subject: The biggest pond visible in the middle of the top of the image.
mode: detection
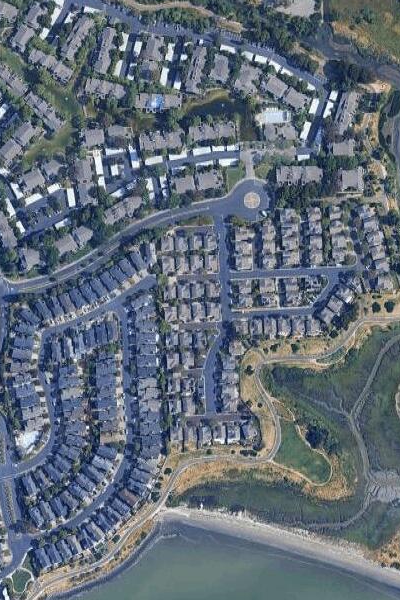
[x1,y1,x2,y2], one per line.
[184,87,259,144]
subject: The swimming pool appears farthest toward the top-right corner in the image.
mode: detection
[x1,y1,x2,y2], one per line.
[255,107,290,124]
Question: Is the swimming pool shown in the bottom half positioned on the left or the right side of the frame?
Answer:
left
